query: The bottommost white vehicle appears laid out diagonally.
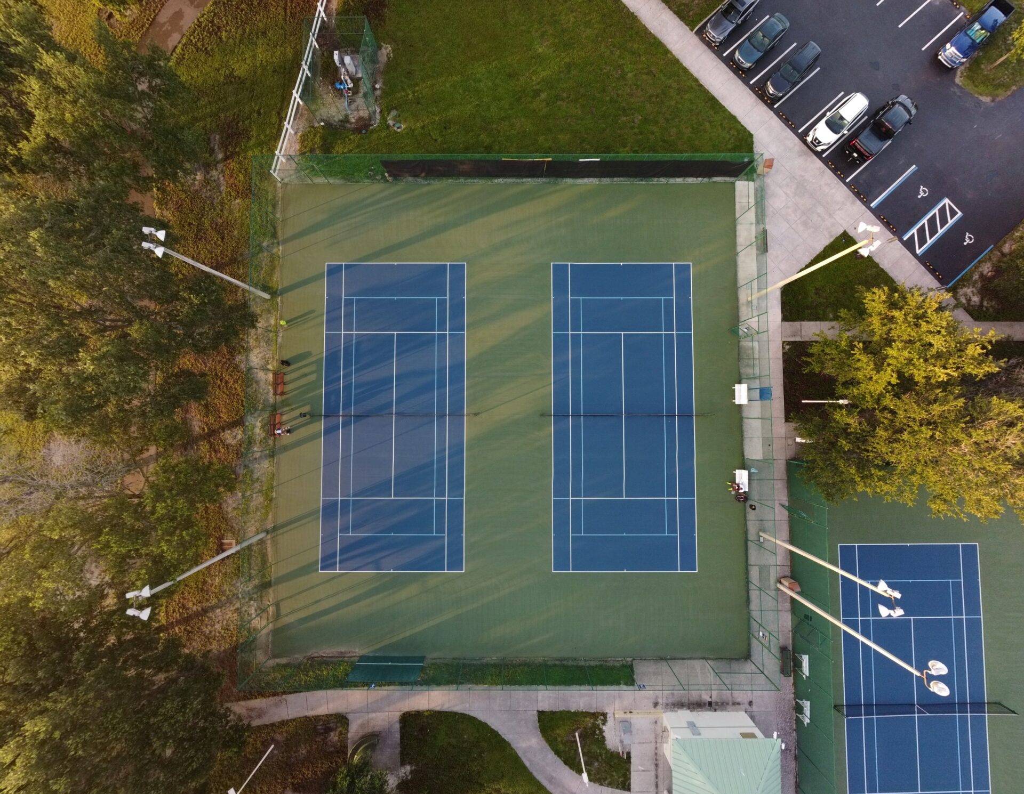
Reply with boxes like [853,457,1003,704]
[807,92,873,154]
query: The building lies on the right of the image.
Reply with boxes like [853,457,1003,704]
[663,711,787,794]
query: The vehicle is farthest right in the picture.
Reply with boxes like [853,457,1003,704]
[933,0,1013,73]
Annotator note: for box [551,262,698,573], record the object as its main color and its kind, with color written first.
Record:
blue tennis court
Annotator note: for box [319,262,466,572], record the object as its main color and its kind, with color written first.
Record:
blue tennis court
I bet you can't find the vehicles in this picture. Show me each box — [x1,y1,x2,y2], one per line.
[704,0,765,47]
[807,92,873,154]
[843,95,920,165]
[933,0,1013,73]
[734,14,795,73]
[765,43,828,106]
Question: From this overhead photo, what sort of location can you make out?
sports ground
